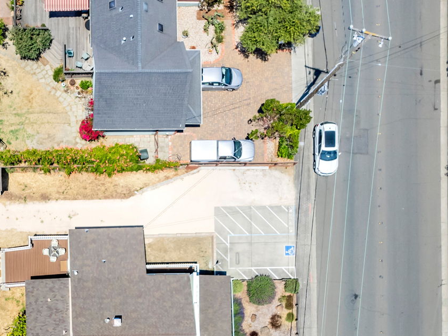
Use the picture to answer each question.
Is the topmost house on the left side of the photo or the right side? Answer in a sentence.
You can find the topmost house on the left side of the picture.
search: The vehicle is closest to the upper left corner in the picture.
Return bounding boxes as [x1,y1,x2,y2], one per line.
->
[202,63,244,91]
